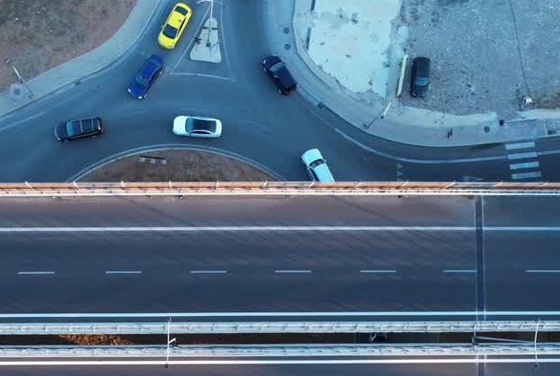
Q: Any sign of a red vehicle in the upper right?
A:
No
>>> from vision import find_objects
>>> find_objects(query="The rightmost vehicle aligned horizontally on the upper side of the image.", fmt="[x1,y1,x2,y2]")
[172,114,221,139]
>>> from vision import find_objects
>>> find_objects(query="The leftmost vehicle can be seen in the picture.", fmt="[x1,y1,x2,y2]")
[55,115,105,143]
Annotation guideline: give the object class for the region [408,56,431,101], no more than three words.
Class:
car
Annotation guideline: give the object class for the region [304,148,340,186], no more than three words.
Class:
car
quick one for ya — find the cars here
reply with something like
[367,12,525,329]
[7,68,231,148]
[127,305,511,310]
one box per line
[128,53,164,102]
[260,54,299,100]
[172,114,221,139]
[408,56,431,101]
[55,115,105,143]
[160,1,192,51]
[304,148,340,186]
